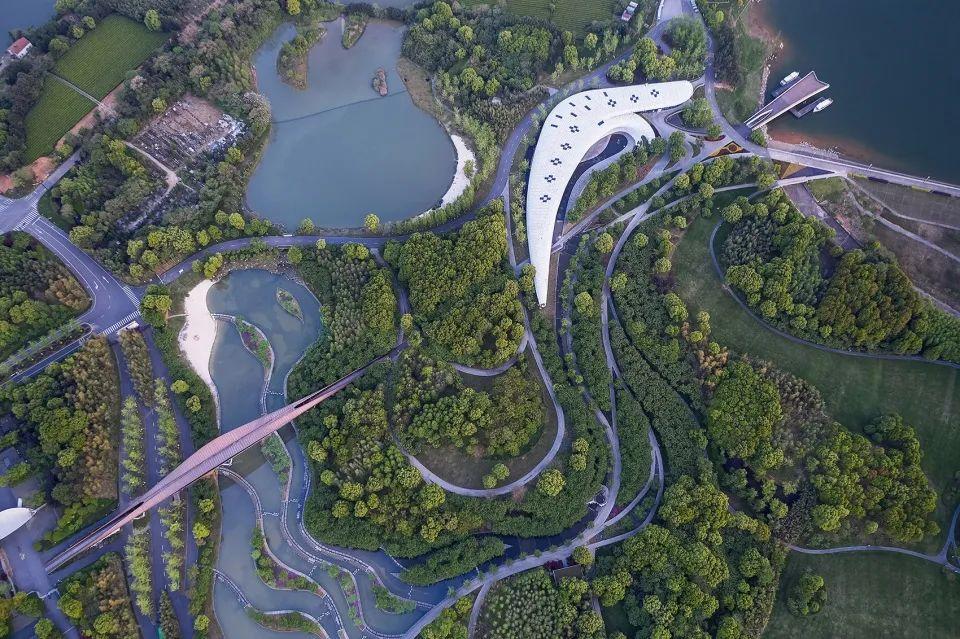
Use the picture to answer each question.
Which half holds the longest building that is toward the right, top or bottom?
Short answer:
top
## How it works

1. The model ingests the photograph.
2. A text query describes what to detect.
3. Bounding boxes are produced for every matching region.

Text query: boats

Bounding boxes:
[779,70,800,85]
[813,96,835,112]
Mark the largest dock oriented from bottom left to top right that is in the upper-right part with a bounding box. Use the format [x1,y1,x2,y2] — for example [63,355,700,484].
[742,69,830,129]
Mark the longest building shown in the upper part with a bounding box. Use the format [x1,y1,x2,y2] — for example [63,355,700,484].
[527,81,694,307]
